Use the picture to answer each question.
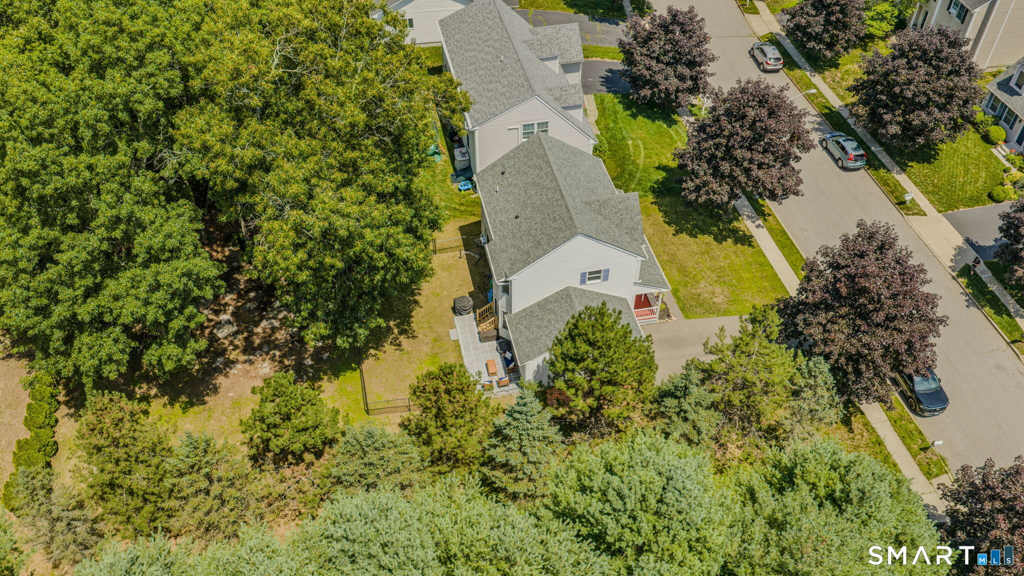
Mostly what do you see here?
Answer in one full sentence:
The bulk of the photo consists of trees.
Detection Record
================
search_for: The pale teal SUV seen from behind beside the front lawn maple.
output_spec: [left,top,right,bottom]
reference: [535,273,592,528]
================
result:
[818,125,864,164]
